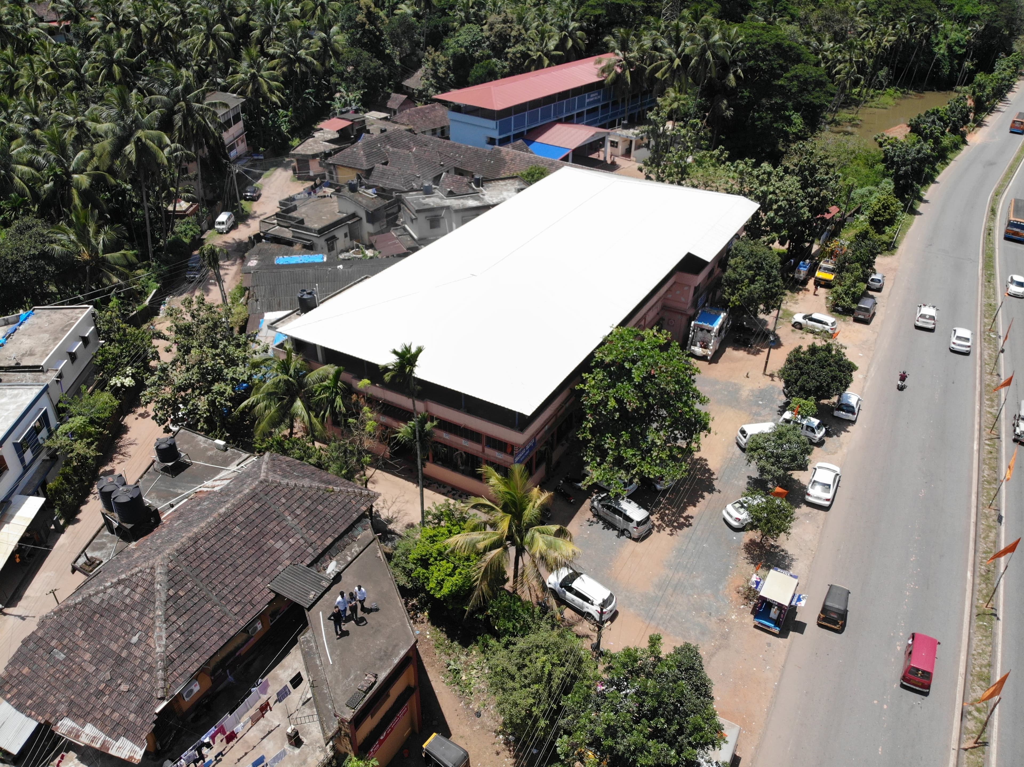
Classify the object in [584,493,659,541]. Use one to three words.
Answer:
car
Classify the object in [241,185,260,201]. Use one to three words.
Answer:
car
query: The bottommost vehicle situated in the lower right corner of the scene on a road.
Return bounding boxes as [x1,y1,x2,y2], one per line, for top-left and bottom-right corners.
[895,633,942,704]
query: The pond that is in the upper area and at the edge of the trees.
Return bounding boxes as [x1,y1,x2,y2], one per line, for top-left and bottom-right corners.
[826,88,964,154]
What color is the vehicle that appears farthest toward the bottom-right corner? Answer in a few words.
red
